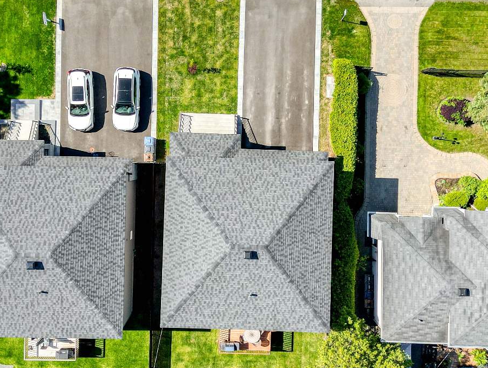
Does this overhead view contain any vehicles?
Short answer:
Yes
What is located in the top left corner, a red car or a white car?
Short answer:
white car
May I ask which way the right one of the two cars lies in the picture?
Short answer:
vertically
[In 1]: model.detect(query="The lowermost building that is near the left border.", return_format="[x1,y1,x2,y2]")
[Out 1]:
[0,138,136,340]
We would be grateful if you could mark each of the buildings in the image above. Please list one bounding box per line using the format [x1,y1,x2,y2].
[159,131,336,333]
[0,138,136,340]
[366,208,488,348]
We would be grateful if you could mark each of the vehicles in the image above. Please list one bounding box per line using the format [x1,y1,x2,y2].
[109,66,141,132]
[63,67,95,131]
